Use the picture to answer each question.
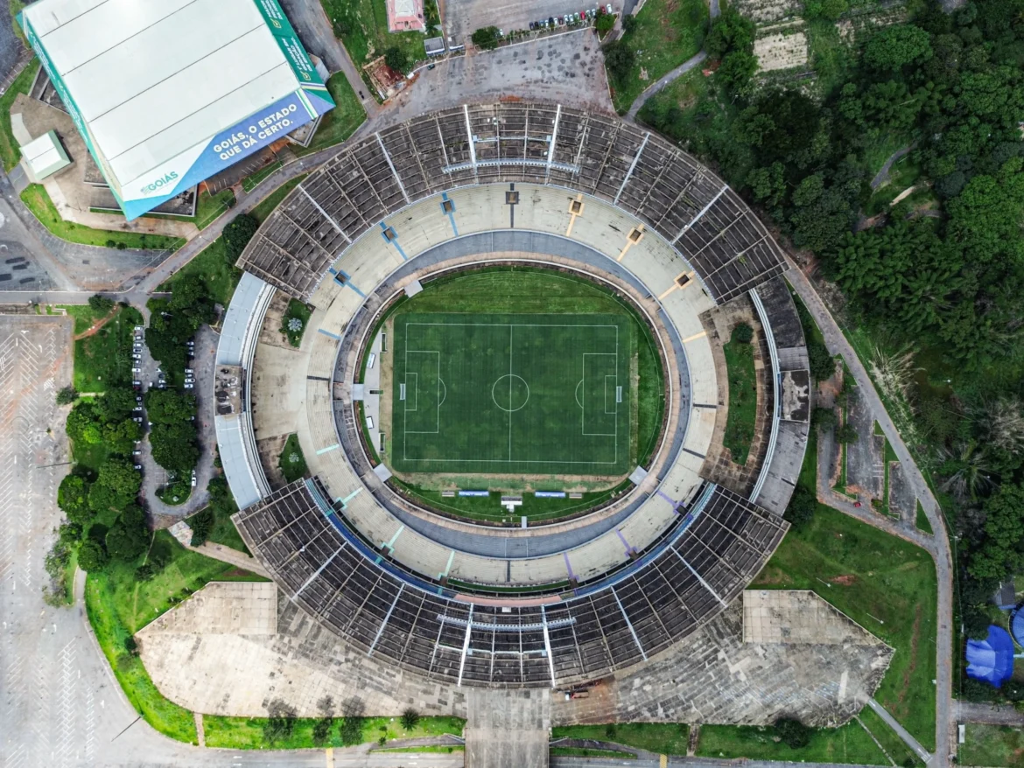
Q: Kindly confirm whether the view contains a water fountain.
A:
No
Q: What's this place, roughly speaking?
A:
sports ground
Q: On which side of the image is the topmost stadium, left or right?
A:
left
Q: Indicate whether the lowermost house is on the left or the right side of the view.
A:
right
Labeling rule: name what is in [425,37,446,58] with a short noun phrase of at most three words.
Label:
building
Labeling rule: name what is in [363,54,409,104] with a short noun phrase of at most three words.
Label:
building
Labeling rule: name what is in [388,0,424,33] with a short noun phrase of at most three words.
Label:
house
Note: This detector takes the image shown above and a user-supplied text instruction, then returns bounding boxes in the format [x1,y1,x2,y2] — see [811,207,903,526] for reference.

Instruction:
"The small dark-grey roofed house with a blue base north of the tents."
[991,580,1016,610]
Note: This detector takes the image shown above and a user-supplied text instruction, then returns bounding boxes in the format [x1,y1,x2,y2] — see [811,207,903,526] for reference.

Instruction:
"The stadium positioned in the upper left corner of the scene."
[16,0,336,220]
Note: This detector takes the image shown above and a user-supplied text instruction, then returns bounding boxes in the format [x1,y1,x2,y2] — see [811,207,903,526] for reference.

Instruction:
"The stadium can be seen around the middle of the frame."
[214,101,811,692]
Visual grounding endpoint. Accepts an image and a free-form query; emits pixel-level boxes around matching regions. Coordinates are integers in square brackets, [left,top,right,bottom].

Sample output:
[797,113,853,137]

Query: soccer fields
[355,261,671,526]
